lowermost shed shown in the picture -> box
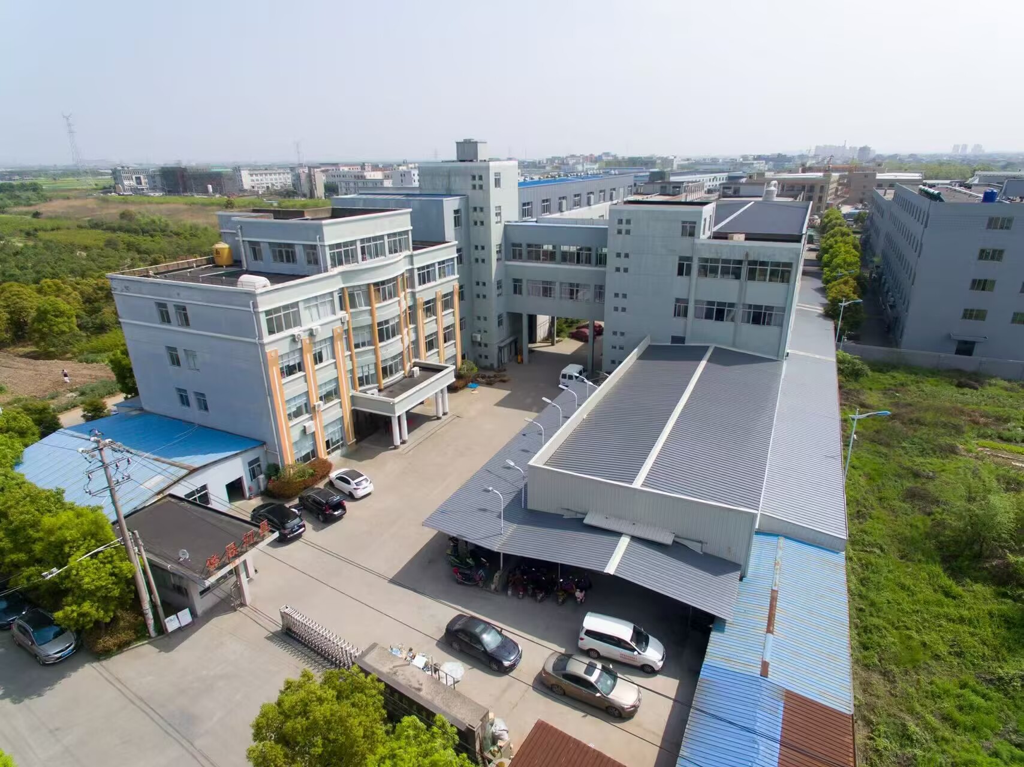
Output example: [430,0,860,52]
[516,719,618,767]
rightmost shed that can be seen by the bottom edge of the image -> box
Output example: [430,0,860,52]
[678,538,856,767]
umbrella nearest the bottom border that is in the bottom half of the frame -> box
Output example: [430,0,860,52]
[440,659,474,685]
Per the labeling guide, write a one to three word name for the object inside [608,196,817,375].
building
